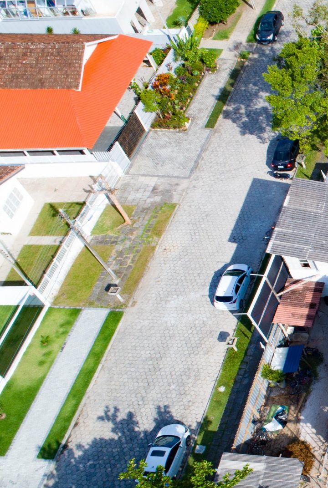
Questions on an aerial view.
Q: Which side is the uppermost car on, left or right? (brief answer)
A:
right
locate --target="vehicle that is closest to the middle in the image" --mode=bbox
[205,256,254,312]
